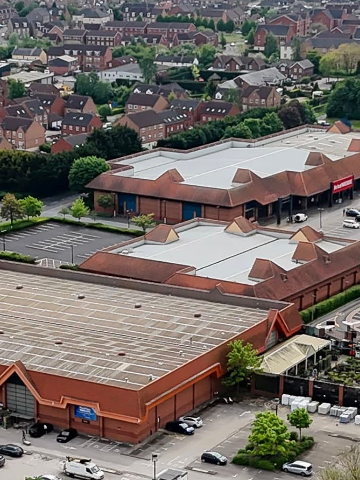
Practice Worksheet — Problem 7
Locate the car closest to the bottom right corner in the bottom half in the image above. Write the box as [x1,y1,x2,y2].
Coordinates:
[283,460,315,476]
